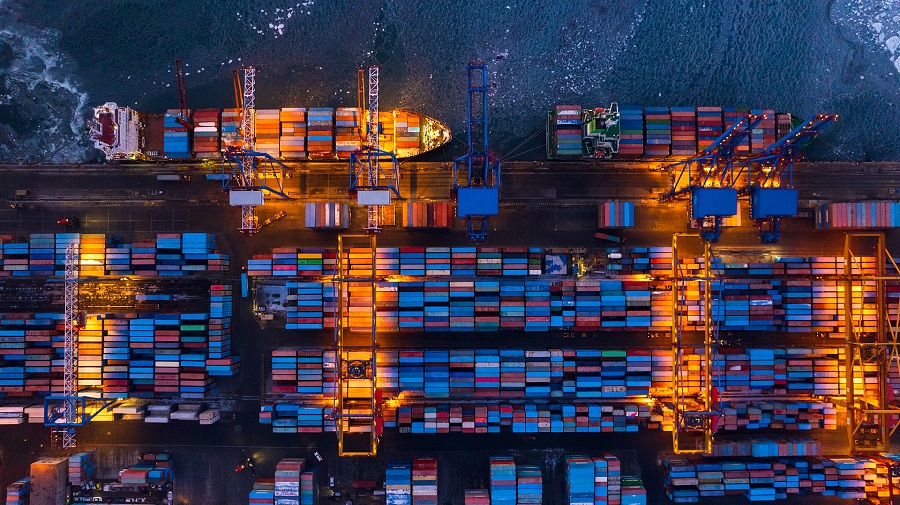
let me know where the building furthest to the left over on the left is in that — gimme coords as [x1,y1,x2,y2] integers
[28,458,70,505]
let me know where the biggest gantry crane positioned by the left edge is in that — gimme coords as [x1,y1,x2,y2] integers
[41,244,123,448]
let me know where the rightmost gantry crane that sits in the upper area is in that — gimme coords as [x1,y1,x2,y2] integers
[713,121,840,248]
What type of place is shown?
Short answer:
port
